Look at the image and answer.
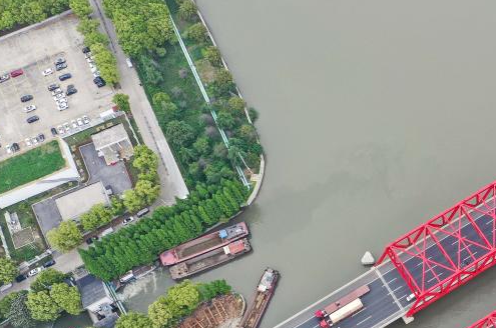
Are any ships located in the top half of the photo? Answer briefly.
No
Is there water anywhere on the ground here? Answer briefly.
Yes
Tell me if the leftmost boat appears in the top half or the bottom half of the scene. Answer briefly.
bottom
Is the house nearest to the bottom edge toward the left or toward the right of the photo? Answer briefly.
left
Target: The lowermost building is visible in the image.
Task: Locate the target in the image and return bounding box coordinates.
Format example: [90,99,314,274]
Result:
[77,275,121,322]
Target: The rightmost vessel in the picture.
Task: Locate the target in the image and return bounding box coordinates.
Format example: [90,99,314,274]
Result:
[240,267,279,328]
